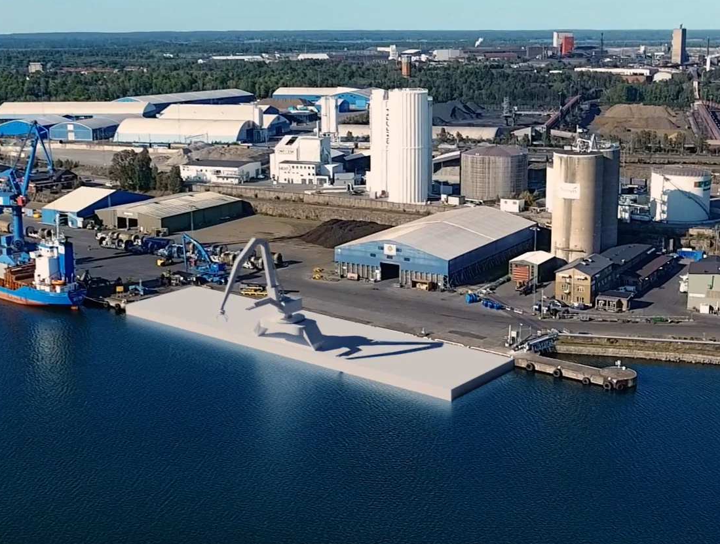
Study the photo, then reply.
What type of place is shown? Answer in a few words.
port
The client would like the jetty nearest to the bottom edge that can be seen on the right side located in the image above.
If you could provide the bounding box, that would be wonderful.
[512,351,638,389]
